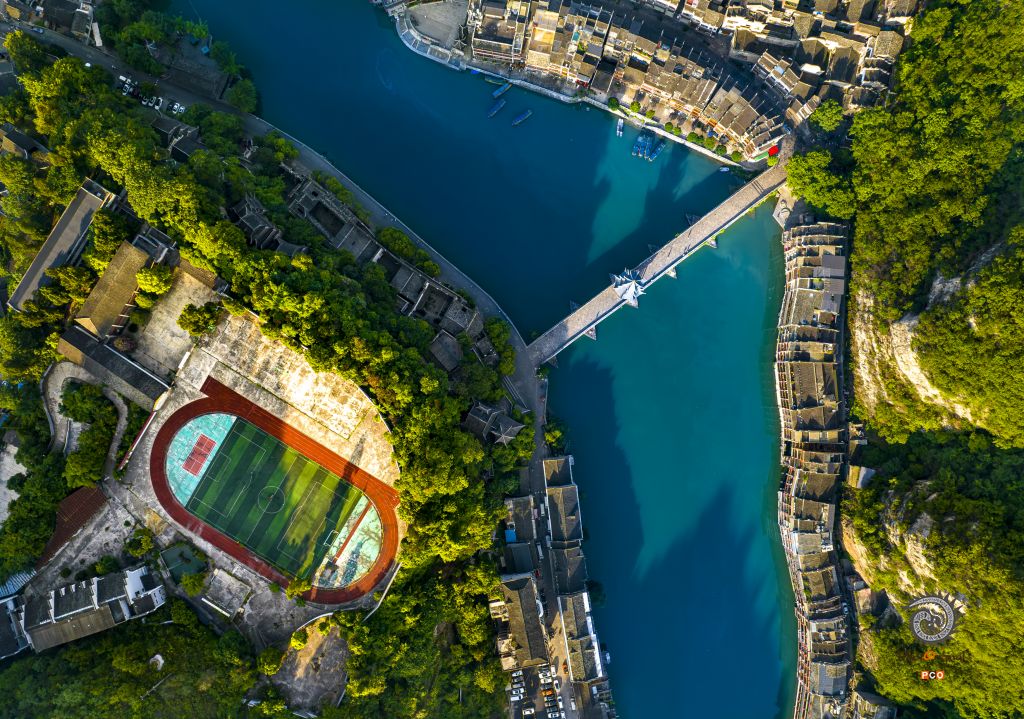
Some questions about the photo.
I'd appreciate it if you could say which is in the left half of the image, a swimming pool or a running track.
running track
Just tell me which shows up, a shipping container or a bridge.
bridge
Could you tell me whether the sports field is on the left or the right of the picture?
left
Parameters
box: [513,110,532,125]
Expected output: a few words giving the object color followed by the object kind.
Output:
blue boat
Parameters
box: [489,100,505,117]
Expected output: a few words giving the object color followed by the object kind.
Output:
blue boat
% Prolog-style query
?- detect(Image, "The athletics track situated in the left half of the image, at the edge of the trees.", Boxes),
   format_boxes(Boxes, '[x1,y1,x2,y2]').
[147,398,402,604]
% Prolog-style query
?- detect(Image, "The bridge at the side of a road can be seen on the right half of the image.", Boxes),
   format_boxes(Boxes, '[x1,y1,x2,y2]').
[528,161,796,368]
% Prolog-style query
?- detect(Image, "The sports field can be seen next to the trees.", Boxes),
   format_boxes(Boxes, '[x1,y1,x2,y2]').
[147,378,402,604]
